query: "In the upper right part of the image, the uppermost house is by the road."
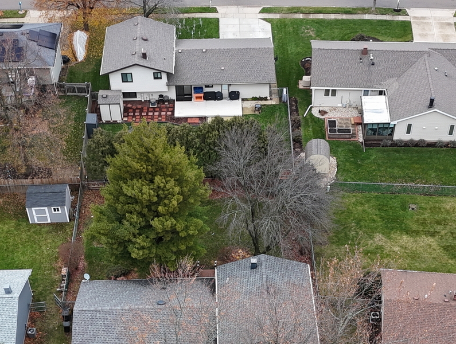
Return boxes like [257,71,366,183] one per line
[304,40,456,143]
